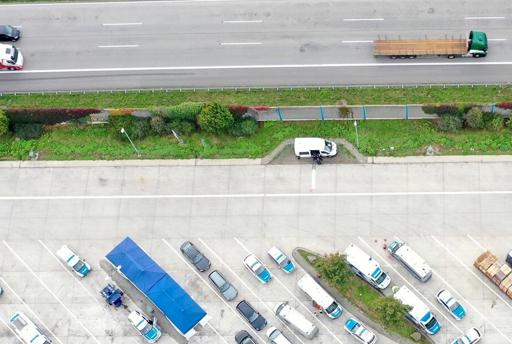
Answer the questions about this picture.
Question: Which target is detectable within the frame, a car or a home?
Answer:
car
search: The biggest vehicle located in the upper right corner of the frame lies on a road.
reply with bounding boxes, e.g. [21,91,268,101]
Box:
[374,33,488,61]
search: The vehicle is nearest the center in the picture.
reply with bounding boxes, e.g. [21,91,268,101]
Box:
[294,139,337,157]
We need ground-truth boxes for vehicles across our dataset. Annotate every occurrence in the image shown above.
[267,245,298,276]
[55,244,93,278]
[342,244,392,290]
[393,285,440,335]
[207,269,240,304]
[344,318,380,344]
[294,139,337,157]
[235,329,258,344]
[128,310,162,344]
[453,327,482,344]
[8,311,55,344]
[0,44,28,71]
[374,33,488,61]
[242,253,275,287]
[435,288,468,322]
[266,325,293,344]
[296,272,344,321]
[0,25,22,43]
[235,298,269,333]
[179,240,212,274]
[274,301,321,343]
[388,241,433,286]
